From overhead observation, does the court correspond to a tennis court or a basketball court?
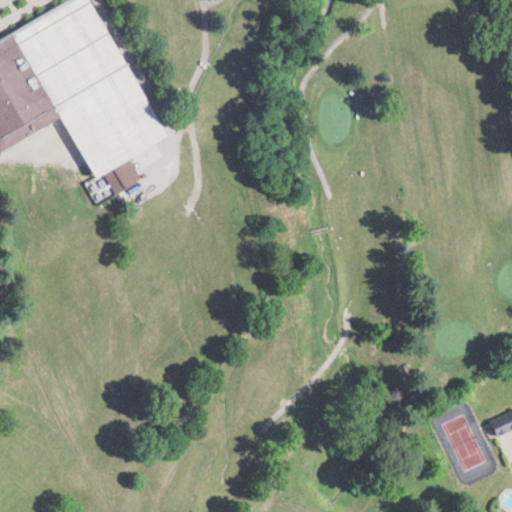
tennis court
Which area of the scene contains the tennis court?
bottom right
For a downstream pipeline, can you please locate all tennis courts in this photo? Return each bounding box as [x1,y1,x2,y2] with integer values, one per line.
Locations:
[434,404,496,485]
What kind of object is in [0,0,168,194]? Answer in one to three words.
building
